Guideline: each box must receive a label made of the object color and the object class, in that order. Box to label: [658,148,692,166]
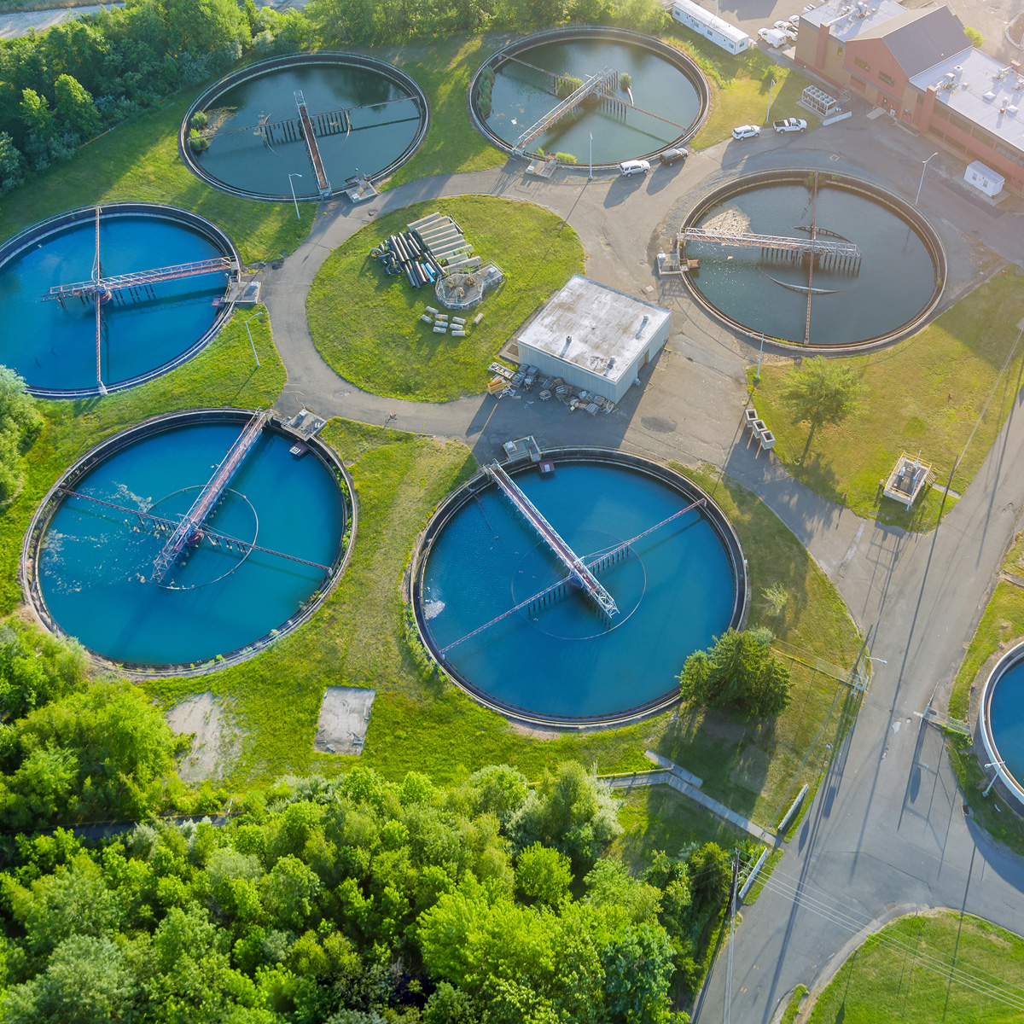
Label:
gray car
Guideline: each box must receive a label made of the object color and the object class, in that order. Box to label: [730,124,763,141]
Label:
white car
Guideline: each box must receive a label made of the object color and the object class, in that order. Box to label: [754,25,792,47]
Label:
white truck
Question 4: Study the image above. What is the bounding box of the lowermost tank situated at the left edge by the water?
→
[20,404,358,678]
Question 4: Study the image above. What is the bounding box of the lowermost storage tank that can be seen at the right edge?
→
[979,646,1024,824]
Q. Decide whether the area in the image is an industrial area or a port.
industrial area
